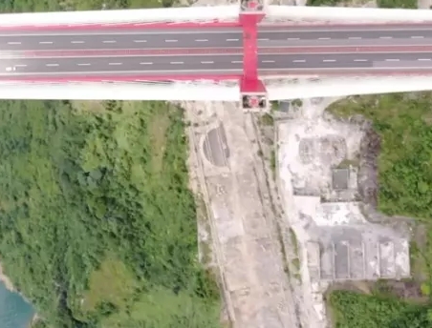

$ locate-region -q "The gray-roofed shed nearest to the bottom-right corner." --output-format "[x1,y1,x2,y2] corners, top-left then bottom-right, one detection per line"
[332,169,350,190]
